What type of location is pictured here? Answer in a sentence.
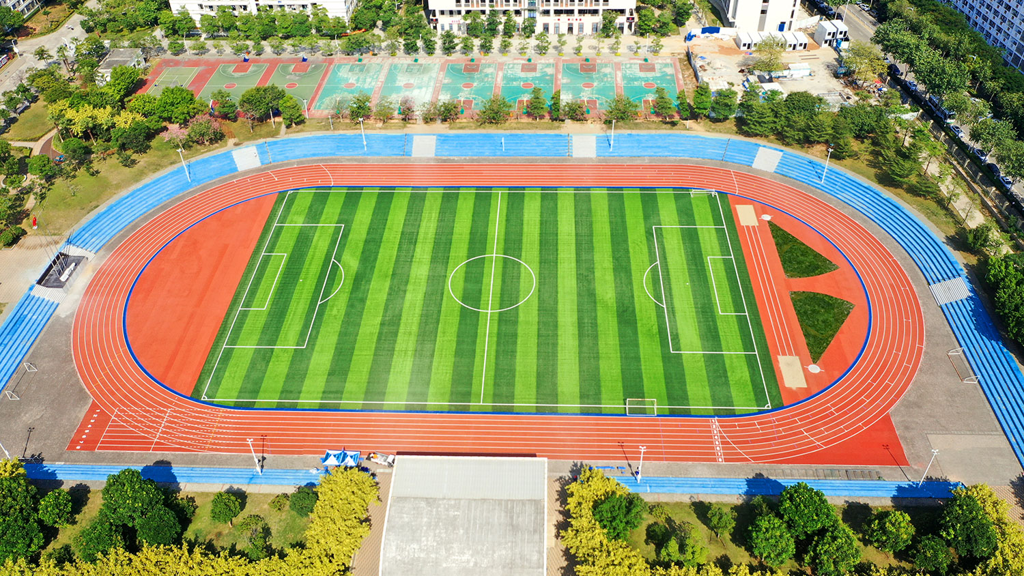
It's a sports ground.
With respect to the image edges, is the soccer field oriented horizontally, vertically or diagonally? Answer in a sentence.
The soccer field is laid out horizontally.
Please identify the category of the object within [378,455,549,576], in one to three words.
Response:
building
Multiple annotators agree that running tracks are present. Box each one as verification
[65,164,923,467]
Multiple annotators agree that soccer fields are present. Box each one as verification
[191,187,783,414]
